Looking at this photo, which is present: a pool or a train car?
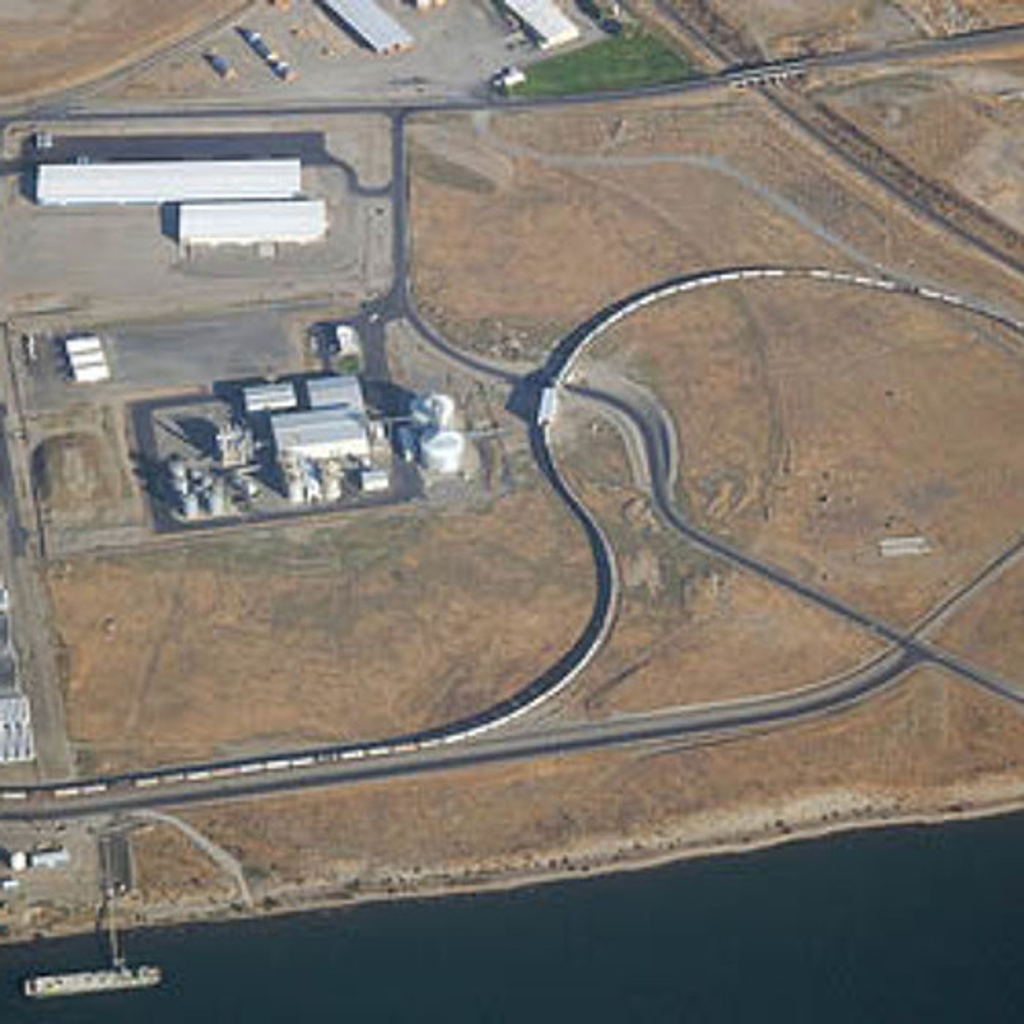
train car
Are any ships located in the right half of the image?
No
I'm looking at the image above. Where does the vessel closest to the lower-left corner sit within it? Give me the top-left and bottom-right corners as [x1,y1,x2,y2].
[26,970,159,1000]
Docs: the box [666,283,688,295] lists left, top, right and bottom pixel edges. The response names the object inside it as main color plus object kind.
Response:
white rail car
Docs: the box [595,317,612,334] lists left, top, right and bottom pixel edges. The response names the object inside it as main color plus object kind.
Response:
white rail car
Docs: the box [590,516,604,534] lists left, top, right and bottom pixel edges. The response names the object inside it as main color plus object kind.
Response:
gray rail car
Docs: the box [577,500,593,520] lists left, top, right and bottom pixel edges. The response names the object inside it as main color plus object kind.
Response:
gray rail car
